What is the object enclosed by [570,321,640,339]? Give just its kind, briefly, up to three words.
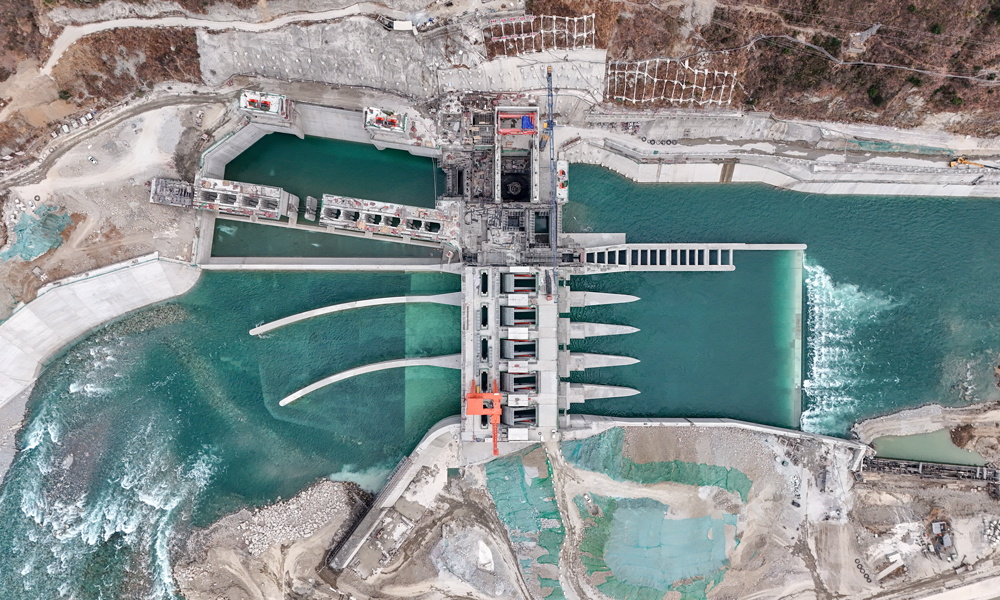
pier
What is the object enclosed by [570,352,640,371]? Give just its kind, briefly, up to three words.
pier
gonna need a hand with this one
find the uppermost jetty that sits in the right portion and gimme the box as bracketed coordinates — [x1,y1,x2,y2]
[570,290,640,307]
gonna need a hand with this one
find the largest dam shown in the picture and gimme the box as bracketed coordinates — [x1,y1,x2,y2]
[461,266,640,442]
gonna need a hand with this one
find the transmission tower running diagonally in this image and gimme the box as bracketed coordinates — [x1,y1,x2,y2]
[849,16,889,51]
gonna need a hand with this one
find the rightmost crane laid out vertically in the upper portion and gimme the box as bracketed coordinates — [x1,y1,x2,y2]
[541,68,558,254]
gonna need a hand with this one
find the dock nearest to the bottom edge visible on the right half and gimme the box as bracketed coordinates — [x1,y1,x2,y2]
[570,382,640,404]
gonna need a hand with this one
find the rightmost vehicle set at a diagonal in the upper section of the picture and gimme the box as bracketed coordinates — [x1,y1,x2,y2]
[195,128,211,145]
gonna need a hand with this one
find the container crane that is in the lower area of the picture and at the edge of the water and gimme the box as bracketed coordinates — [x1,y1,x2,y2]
[466,378,502,456]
